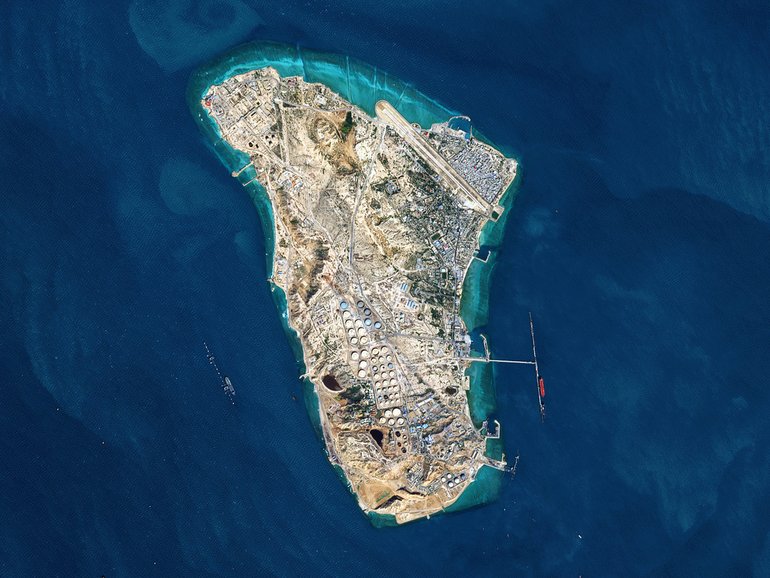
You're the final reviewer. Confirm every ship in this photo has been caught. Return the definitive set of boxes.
[226,377,235,395]
[540,378,545,397]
